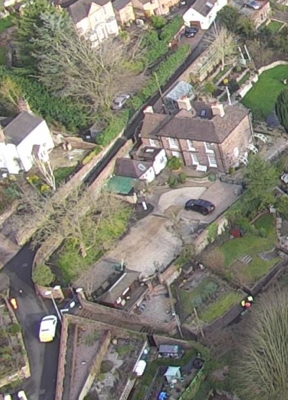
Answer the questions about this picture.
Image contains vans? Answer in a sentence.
Yes, the image includes a van.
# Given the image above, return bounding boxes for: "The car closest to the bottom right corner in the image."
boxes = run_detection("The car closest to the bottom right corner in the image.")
[184,193,214,212]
